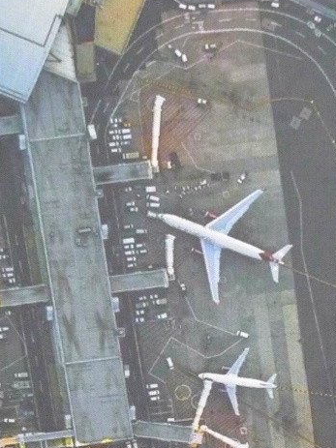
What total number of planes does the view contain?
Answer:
2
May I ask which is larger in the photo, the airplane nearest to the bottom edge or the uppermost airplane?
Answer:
the uppermost airplane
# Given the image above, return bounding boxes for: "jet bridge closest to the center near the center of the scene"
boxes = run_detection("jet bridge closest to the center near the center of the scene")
[159,230,175,278]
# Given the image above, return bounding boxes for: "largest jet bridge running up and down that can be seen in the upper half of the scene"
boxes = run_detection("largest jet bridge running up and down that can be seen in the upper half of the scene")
[148,92,166,171]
